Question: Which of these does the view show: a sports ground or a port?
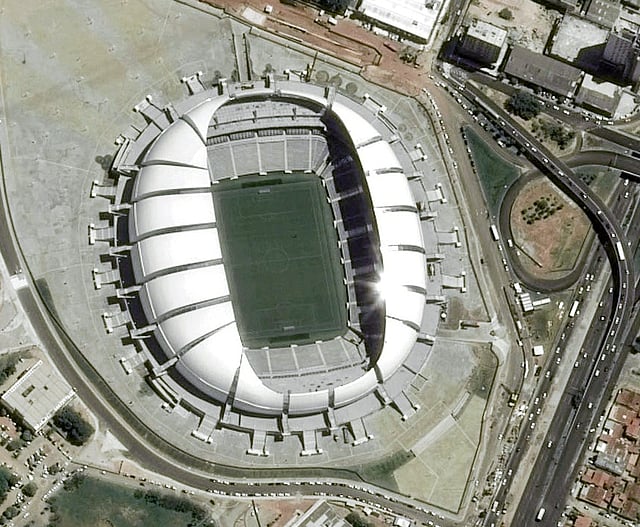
sports ground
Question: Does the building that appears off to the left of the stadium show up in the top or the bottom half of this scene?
bottom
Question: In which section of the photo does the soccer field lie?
center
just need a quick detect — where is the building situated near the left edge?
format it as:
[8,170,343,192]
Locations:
[2,360,75,435]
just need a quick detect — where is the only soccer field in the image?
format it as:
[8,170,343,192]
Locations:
[212,171,348,349]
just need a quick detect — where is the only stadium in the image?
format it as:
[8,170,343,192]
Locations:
[90,68,467,456]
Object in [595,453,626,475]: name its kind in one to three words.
house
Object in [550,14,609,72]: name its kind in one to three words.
building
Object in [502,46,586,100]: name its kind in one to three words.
building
